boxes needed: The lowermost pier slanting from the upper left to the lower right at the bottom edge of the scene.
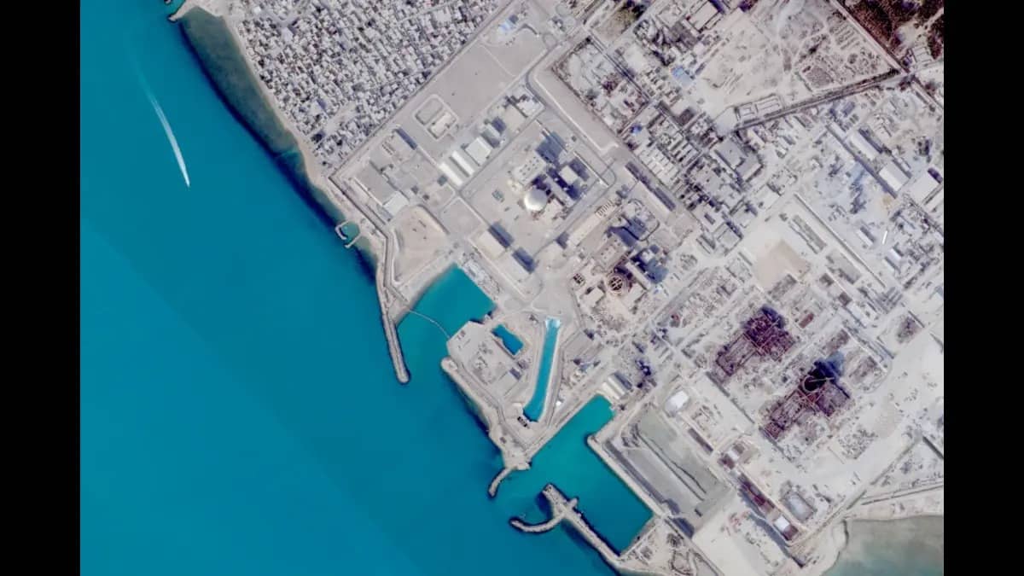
[545,485,624,570]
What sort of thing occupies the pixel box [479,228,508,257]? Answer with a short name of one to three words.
building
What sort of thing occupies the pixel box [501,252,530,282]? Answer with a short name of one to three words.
building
